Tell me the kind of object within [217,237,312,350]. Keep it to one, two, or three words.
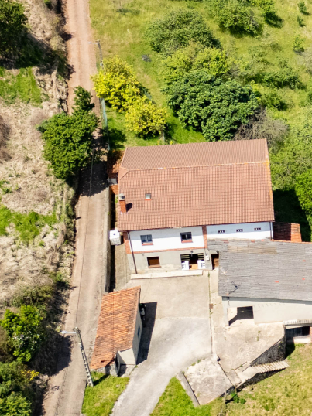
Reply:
barn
